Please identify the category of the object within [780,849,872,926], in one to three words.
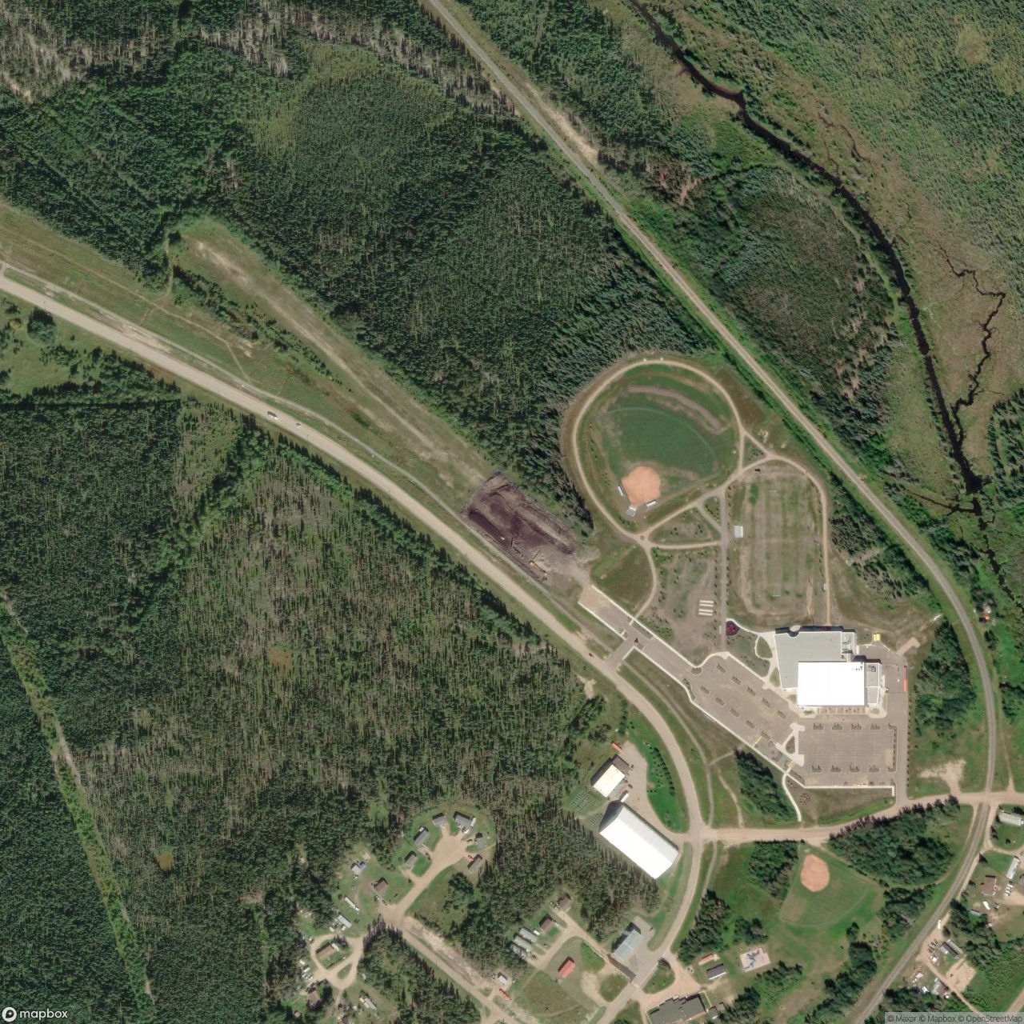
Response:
baseball field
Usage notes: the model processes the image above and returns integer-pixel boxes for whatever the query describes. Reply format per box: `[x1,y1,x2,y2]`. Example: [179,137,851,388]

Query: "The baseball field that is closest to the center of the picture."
[596,384,720,507]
